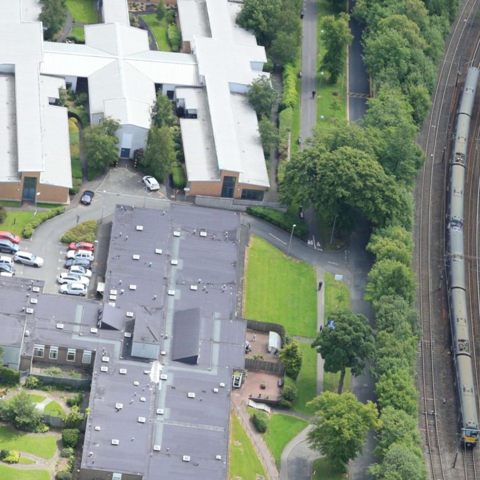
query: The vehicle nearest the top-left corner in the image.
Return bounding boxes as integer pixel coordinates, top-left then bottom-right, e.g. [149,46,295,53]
[80,190,95,206]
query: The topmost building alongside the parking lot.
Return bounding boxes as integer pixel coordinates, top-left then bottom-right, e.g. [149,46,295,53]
[0,0,271,204]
